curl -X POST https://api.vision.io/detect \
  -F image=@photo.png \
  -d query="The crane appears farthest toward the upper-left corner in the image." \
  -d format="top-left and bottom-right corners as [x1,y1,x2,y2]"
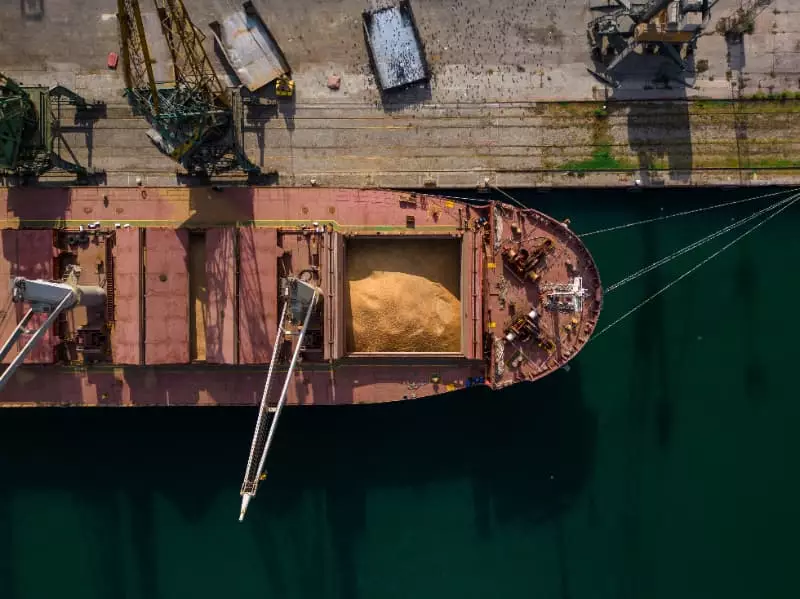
[0,64,105,176]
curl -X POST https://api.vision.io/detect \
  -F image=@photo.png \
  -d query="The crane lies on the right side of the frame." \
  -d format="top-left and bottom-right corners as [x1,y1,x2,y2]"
[585,0,708,90]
